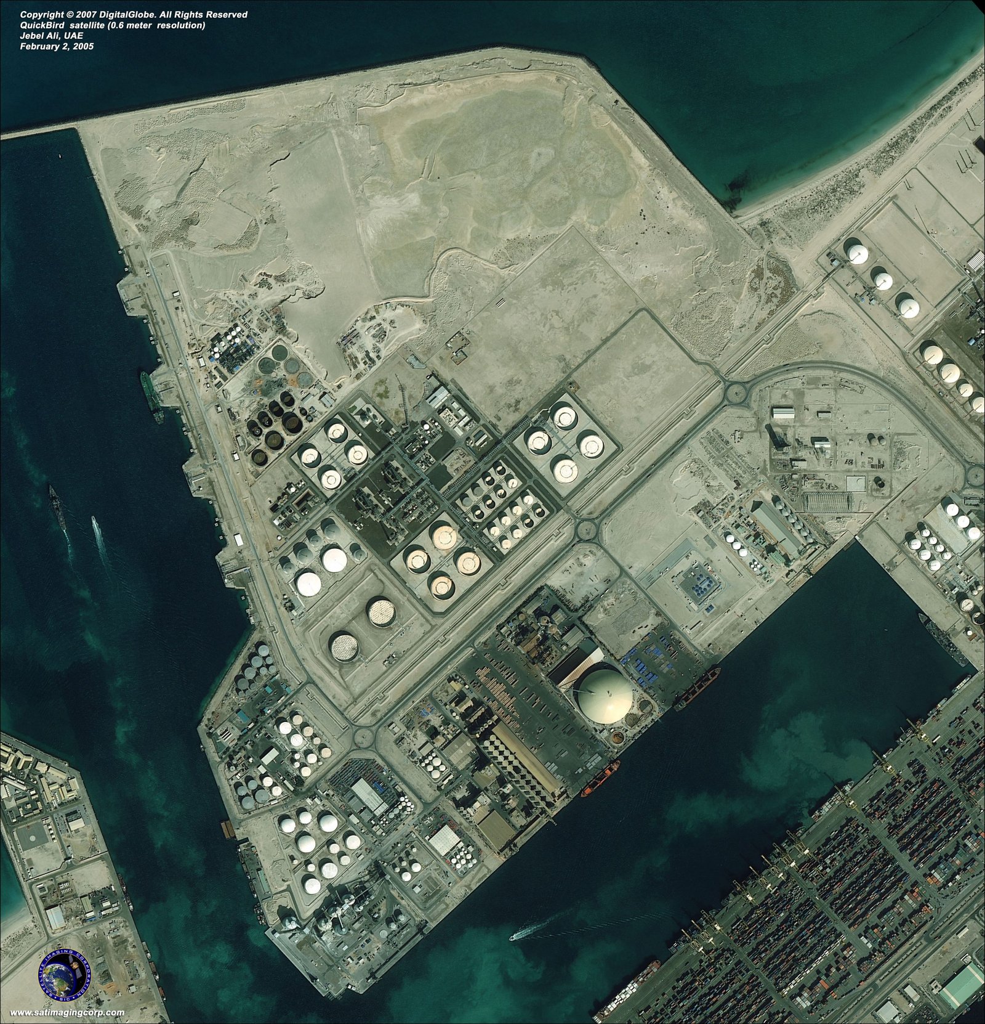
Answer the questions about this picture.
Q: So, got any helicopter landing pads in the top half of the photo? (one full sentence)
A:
No, in the top half of the photo there is no helicopter landing pad.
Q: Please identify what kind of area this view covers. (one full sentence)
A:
The area seen from above is a port.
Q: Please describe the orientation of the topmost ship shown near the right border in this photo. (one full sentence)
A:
From this overhead view, the topmost ship shown near the right border appears to run on a diagonal.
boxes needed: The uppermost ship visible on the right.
[918,614,968,669]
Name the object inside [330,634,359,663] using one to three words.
storage tank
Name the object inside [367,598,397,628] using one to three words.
storage tank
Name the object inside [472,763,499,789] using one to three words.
house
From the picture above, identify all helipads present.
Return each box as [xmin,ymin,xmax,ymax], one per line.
[16,822,48,851]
